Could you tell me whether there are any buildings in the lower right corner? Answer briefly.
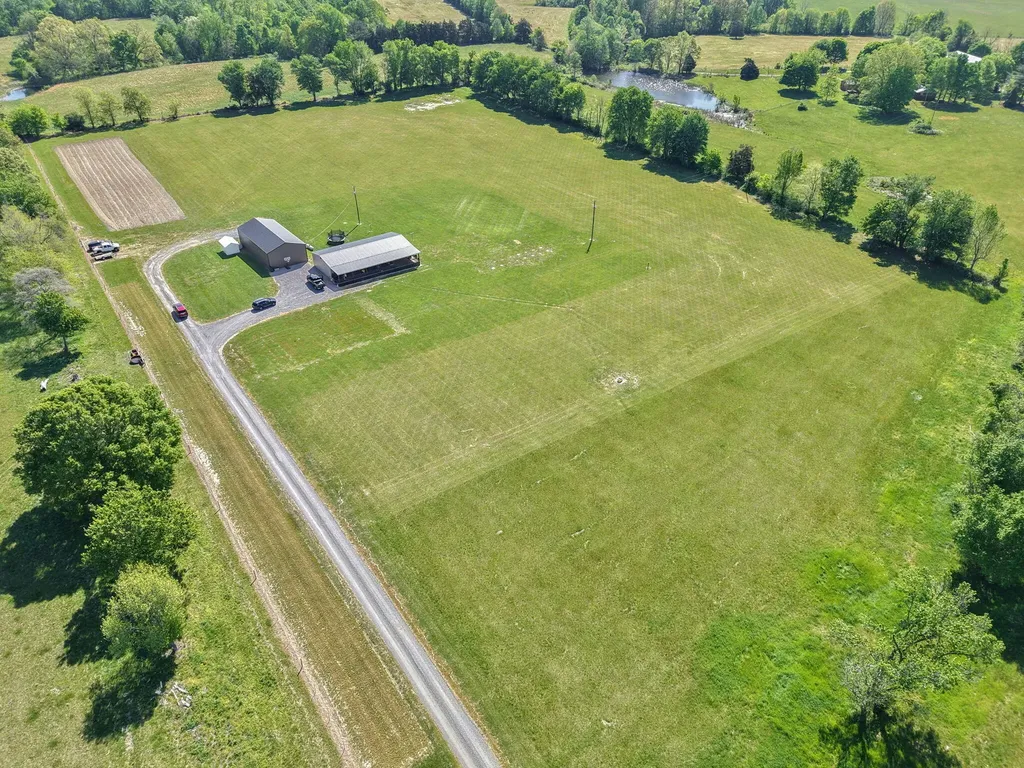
No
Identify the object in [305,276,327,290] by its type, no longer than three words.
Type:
vehicle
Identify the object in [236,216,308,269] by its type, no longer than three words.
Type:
building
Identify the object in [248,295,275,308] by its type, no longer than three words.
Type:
vehicle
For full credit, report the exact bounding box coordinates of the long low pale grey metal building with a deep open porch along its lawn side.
[315,231,421,285]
